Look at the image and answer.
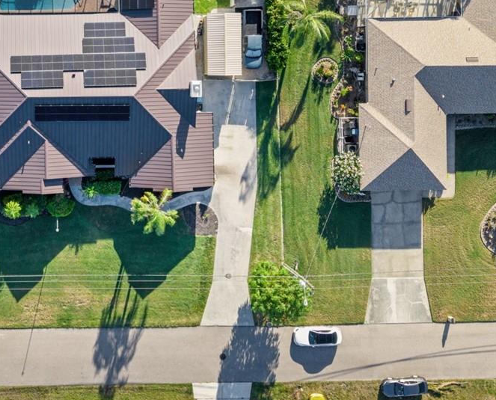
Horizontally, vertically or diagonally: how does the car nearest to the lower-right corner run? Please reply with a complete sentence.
In this picture, the car nearest to the lower-right corner is oriented horizontally.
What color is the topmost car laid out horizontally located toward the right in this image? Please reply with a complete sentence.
The topmost car laid out horizontally located toward the right looks white in the image.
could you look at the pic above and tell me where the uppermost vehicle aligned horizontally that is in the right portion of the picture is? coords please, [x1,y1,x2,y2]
[292,325,340,349]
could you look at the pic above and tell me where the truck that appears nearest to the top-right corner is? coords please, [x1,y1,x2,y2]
[243,11,264,64]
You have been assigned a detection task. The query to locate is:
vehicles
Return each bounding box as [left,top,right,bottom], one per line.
[292,325,340,349]
[306,391,324,400]
[243,11,264,64]
[379,375,426,398]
